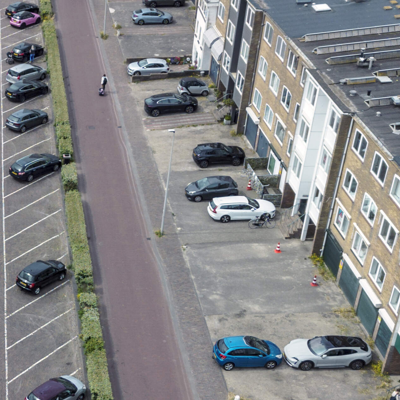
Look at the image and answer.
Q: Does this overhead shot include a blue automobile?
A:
Yes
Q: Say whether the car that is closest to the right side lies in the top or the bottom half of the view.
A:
bottom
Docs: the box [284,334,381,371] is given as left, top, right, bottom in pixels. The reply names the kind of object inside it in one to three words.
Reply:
car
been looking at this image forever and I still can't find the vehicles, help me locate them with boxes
[11,257,70,295]
[189,140,247,168]
[2,106,52,132]
[181,171,241,202]
[5,151,64,182]
[210,335,286,371]
[130,6,175,24]
[205,192,277,222]
[140,92,199,116]
[125,53,172,73]
[2,77,52,101]
[284,334,381,371]
[22,375,88,400]
[140,0,186,7]
[178,74,211,94]
[7,9,42,28]
[7,41,46,63]
[1,63,48,85]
